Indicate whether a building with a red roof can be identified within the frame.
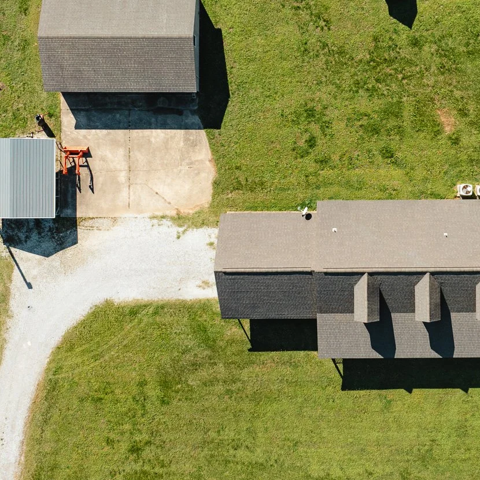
No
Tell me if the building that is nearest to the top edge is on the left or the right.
left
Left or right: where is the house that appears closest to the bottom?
right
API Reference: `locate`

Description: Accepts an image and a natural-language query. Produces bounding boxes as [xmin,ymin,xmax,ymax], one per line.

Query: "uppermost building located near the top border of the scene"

[36,0,199,91]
